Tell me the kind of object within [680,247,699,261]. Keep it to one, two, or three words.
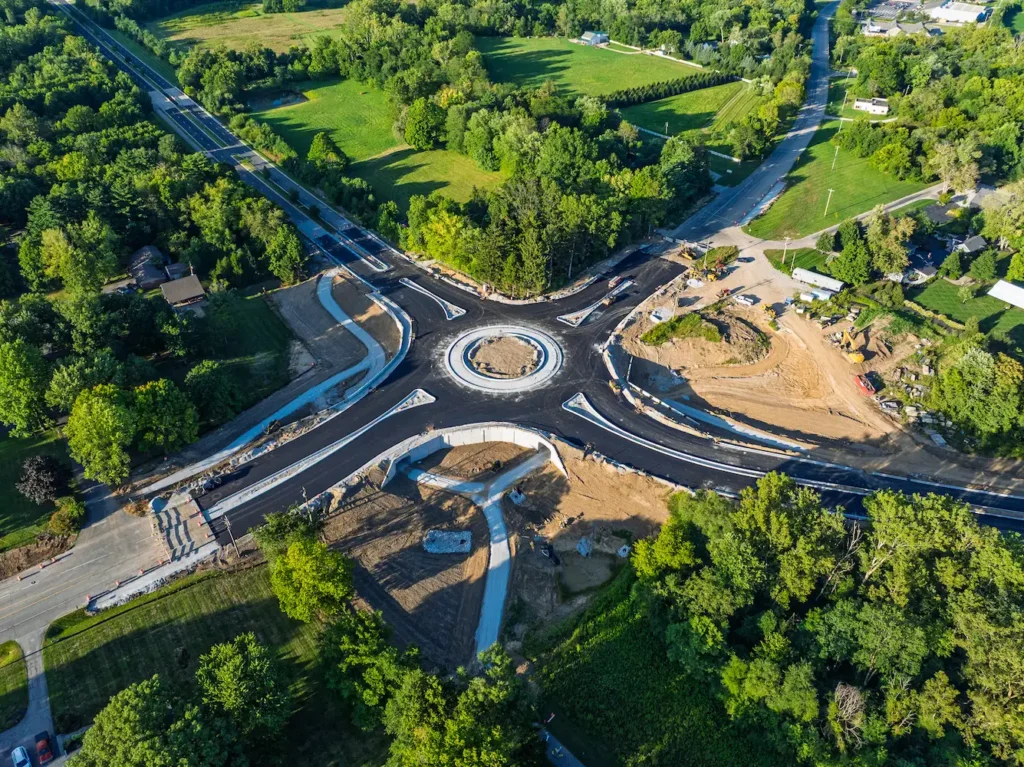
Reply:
work vehicle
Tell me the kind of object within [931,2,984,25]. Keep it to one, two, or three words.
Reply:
building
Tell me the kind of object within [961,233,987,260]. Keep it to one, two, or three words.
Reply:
house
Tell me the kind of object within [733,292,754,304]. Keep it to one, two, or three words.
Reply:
vehicle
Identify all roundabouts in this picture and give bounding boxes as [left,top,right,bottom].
[195,231,1024,543]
